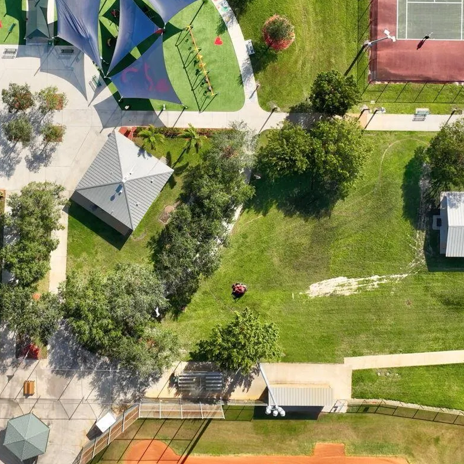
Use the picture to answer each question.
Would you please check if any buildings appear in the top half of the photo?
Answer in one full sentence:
Yes, in the top half of the photo there is a building.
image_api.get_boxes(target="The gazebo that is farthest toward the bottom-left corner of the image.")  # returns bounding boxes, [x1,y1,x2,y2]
[4,409,49,460]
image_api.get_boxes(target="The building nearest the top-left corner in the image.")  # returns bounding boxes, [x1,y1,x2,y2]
[25,0,51,41]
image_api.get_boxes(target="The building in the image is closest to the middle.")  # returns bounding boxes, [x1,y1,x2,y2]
[74,129,174,234]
